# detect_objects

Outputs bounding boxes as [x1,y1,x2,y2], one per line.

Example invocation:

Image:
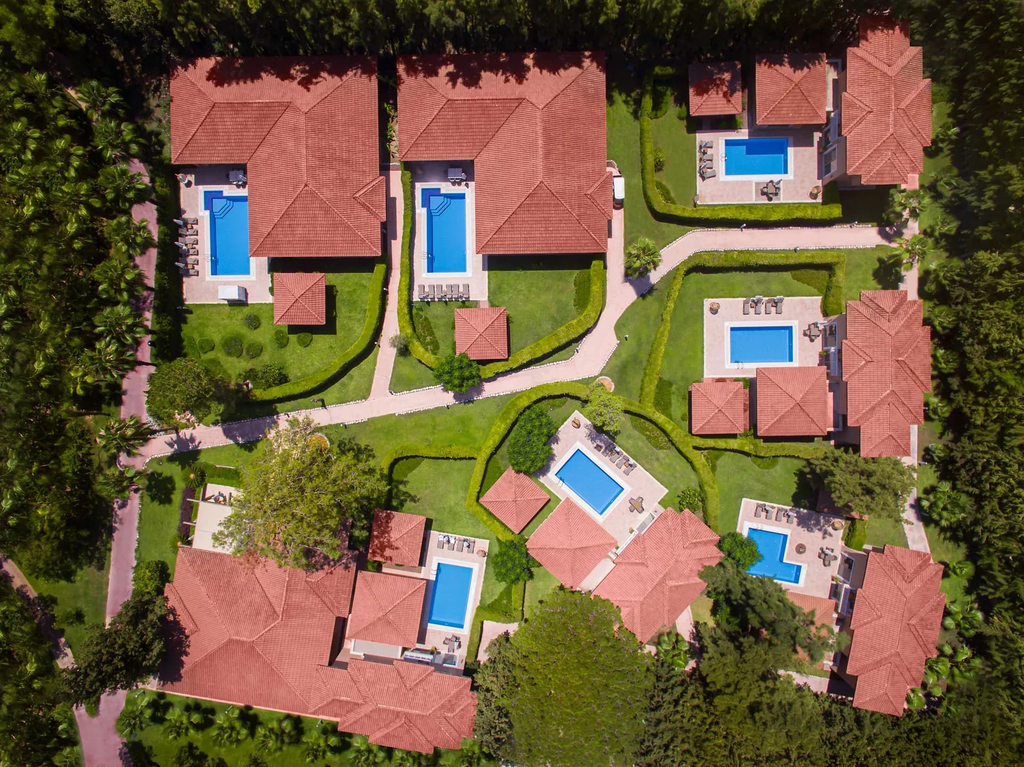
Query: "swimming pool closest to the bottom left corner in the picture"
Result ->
[423,557,479,635]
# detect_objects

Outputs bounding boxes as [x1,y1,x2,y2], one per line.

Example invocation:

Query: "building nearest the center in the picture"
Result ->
[454,307,508,360]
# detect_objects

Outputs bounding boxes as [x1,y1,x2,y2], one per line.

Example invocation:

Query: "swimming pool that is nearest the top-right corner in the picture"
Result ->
[720,132,794,180]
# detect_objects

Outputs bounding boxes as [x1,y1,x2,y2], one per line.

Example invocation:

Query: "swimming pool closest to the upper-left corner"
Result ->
[199,185,256,281]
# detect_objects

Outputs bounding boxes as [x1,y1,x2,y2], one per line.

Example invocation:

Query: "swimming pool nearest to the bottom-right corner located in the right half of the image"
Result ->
[740,522,808,590]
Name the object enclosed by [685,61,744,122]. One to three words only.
building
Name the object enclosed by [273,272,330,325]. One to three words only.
building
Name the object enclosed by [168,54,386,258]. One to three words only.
house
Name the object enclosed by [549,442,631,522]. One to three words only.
swimming pool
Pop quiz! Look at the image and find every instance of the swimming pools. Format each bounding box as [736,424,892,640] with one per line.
[416,183,471,278]
[423,557,479,635]
[549,442,631,522]
[199,185,256,281]
[720,132,794,180]
[725,321,798,368]
[740,522,808,590]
